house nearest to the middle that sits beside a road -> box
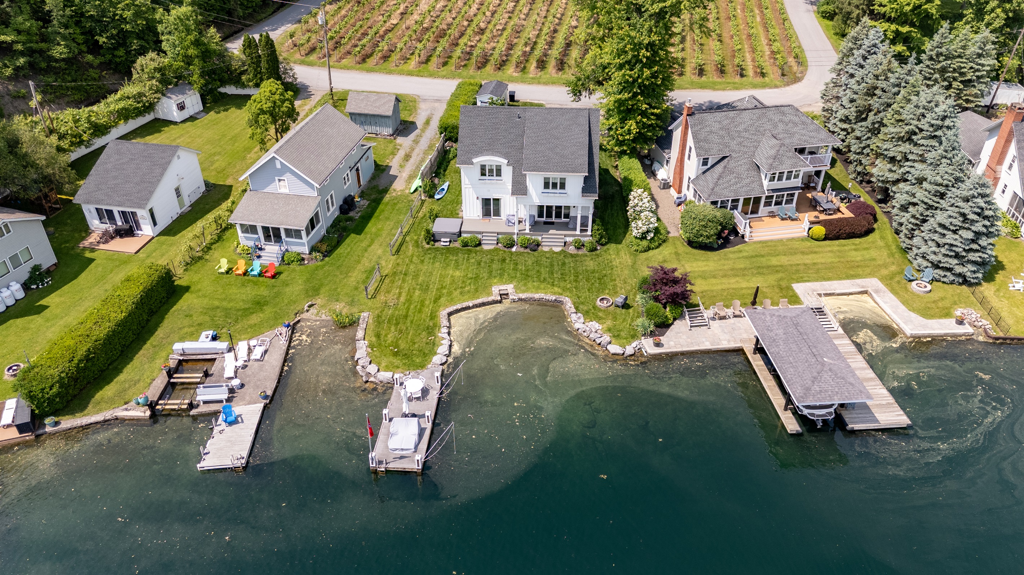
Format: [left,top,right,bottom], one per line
[456,105,600,247]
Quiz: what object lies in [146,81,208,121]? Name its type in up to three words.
shed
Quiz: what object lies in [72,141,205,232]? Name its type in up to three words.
house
